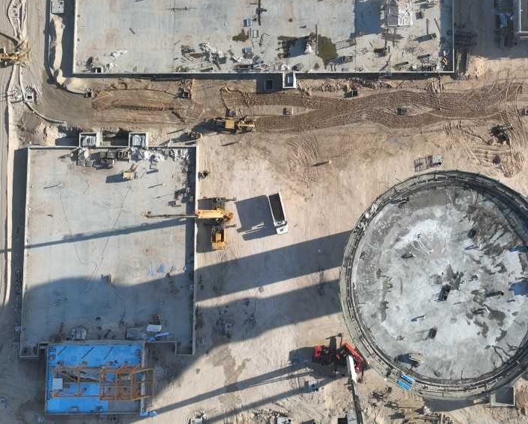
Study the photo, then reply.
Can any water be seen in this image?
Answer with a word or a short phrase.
Yes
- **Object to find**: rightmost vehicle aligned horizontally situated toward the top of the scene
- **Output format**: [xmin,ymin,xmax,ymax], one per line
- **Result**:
[210,116,259,133]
